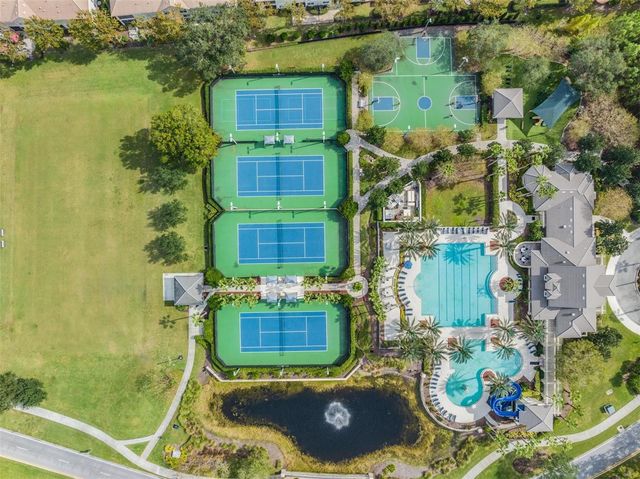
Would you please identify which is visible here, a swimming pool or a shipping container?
swimming pool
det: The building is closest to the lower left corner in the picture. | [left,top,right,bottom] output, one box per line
[174,275,206,305]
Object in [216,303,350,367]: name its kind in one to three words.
tennis court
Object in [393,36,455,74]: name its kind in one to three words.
basketball court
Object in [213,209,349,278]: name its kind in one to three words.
tennis court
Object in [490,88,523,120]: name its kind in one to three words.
building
